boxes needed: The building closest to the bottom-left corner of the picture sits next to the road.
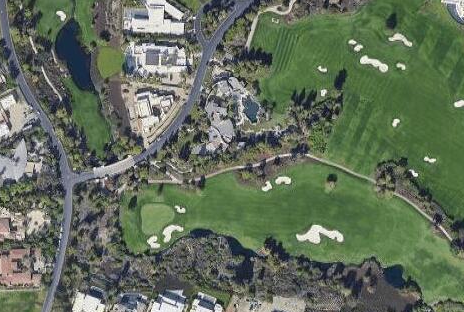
[0,246,42,290]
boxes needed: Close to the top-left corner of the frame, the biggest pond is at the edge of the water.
[55,18,93,92]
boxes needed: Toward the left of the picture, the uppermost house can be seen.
[130,0,185,35]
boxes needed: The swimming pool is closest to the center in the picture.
[242,97,260,124]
